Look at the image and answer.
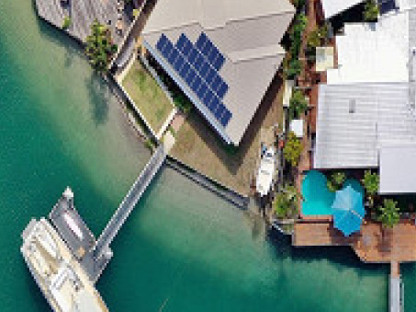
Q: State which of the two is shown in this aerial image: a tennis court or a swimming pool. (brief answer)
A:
swimming pool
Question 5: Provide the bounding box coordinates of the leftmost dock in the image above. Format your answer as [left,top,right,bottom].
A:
[51,188,114,282]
